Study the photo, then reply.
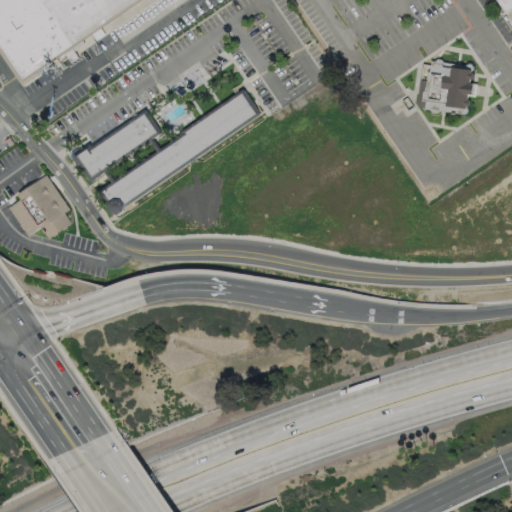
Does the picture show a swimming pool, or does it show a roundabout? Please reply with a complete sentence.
The one in the frame is a swimming pool.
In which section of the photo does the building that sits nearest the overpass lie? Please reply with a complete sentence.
Look in the left portion of the view to spot the building that sits nearest the overpass.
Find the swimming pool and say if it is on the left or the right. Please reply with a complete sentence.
It is on the left.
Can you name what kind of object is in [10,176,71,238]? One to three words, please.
building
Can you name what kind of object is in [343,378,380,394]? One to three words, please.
vehicle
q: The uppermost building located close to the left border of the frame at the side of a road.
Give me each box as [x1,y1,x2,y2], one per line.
[0,0,146,82]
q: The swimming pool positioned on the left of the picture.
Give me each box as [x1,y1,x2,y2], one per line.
[156,100,196,126]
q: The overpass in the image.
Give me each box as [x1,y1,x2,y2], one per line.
[0,260,178,512]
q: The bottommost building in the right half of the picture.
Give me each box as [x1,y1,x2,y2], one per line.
[418,57,477,116]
